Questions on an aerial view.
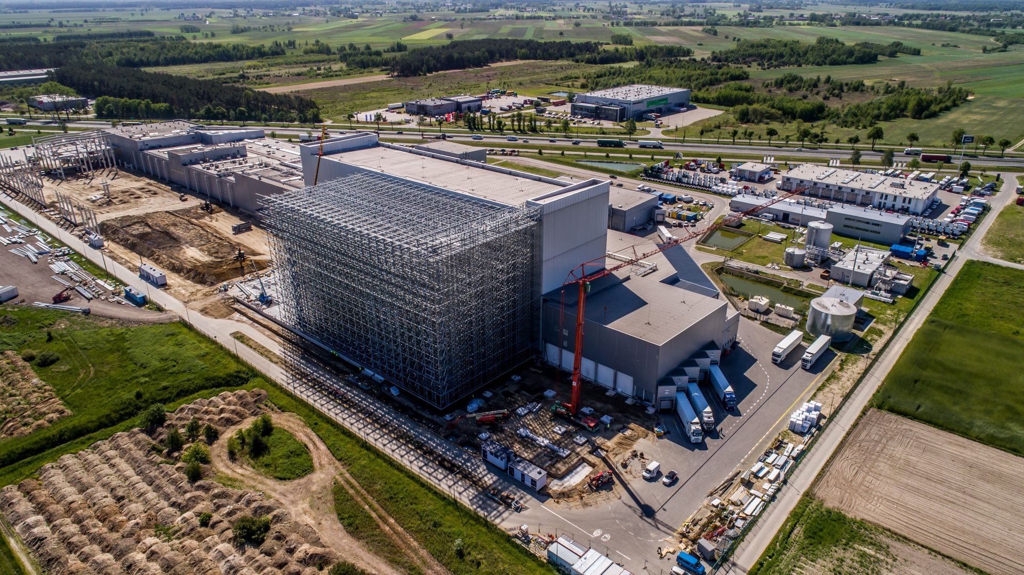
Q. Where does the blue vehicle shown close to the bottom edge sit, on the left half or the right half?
right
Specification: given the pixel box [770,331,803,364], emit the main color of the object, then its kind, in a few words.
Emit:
white truck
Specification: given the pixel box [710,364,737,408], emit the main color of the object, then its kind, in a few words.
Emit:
blue truck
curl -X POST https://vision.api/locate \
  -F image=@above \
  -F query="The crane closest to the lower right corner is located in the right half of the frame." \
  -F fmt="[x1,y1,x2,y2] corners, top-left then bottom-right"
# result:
[548,186,809,430]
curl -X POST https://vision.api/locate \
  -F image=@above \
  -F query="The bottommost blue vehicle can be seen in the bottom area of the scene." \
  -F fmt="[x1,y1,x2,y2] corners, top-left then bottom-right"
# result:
[677,545,707,572]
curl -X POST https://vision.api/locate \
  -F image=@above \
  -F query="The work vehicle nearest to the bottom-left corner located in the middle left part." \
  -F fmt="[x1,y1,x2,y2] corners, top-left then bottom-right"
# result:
[52,284,70,301]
